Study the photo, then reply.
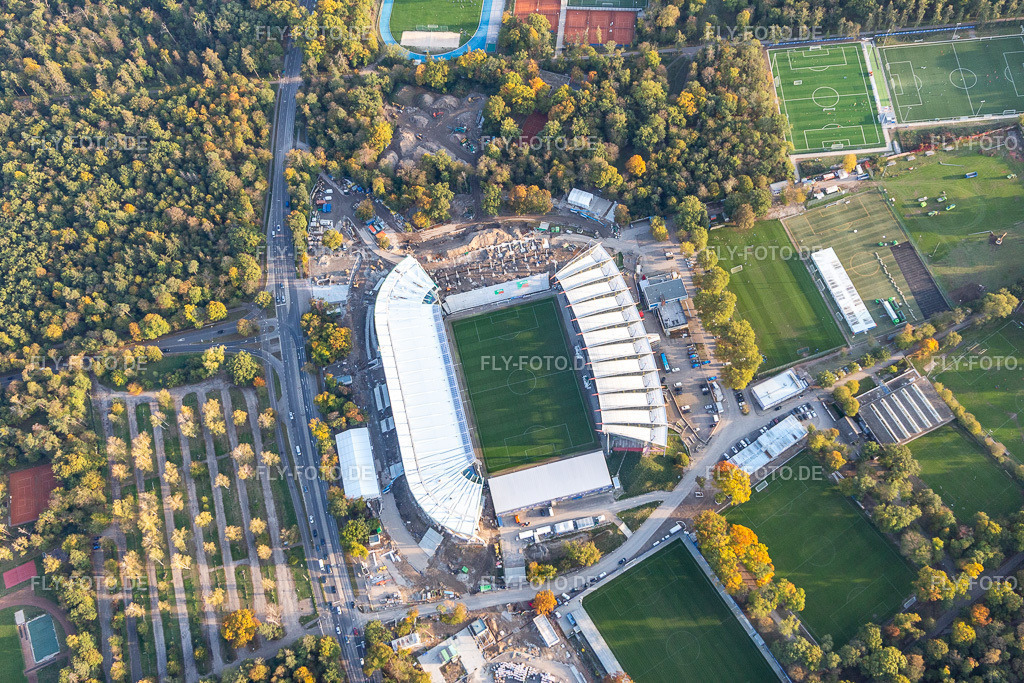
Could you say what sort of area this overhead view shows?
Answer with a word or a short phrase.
sports ground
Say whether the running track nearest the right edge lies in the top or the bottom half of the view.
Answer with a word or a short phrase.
top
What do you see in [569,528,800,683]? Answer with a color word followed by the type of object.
green soccer field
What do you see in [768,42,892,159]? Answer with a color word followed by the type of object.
green soccer field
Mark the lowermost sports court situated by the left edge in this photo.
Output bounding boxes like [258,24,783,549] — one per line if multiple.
[25,615,58,662]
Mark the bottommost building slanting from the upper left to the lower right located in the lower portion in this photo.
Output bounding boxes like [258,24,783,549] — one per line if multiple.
[532,614,559,646]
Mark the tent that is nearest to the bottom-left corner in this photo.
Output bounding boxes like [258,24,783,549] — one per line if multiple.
[335,428,381,501]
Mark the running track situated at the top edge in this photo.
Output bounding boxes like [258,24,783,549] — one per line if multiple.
[379,0,508,58]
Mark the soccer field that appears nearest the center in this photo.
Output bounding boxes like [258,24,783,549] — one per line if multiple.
[443,280,607,479]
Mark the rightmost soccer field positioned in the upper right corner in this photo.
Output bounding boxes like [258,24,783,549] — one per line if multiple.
[876,33,1024,126]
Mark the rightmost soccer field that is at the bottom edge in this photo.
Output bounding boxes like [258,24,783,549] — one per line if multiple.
[717,457,925,658]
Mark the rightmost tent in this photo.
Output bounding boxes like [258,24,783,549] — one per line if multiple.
[567,189,594,209]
